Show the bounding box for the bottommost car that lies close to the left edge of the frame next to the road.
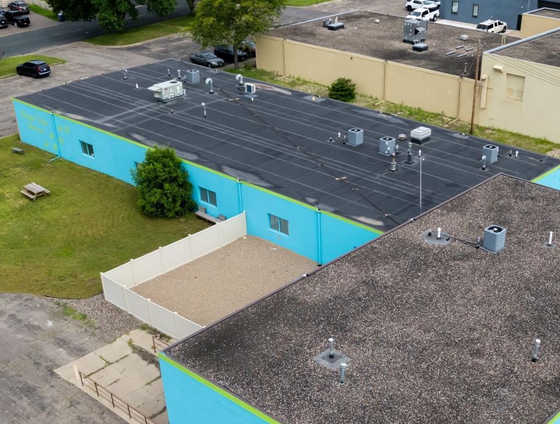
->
[11,55,47,76]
